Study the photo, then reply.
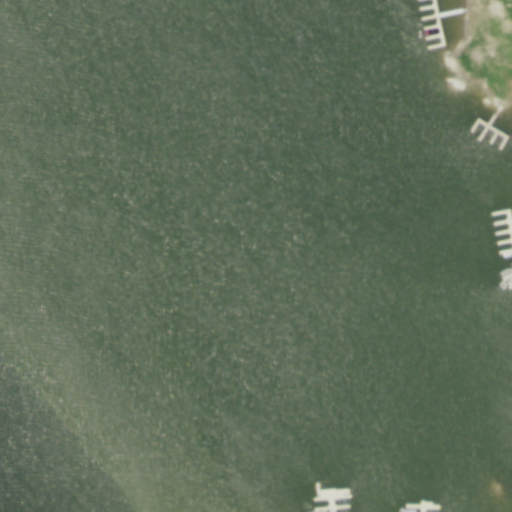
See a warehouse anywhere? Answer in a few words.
No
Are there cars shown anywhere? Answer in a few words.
No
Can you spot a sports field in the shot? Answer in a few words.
No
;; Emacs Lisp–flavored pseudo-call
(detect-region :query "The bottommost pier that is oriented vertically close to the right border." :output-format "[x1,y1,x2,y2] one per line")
[491,208,512,254]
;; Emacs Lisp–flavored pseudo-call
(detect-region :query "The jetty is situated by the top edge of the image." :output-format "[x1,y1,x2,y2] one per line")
[418,0,466,50]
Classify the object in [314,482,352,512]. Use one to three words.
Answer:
pier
